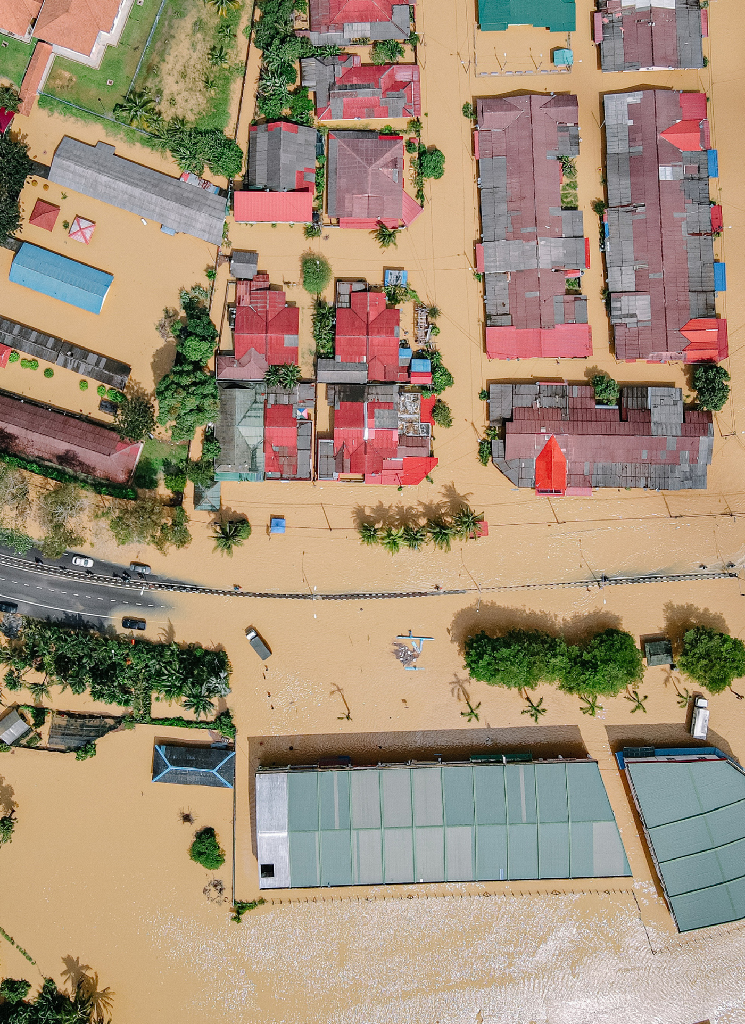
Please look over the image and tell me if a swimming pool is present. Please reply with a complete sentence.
No, no swimming pool can be seen from above.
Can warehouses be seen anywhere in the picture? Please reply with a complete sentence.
Yes, a warehouse appears in the view.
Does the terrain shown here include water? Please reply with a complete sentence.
Yes, there's water in this view.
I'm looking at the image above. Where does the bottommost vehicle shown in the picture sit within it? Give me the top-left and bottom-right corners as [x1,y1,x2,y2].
[689,694,710,742]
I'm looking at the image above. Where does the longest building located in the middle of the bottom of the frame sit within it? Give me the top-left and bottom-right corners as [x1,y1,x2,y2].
[255,749,633,890]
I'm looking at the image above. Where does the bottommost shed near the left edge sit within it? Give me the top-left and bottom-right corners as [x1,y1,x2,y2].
[0,707,31,744]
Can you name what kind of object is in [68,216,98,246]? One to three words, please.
building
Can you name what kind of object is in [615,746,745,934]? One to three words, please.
warehouse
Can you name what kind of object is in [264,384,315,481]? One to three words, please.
house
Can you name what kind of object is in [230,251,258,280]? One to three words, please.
shed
